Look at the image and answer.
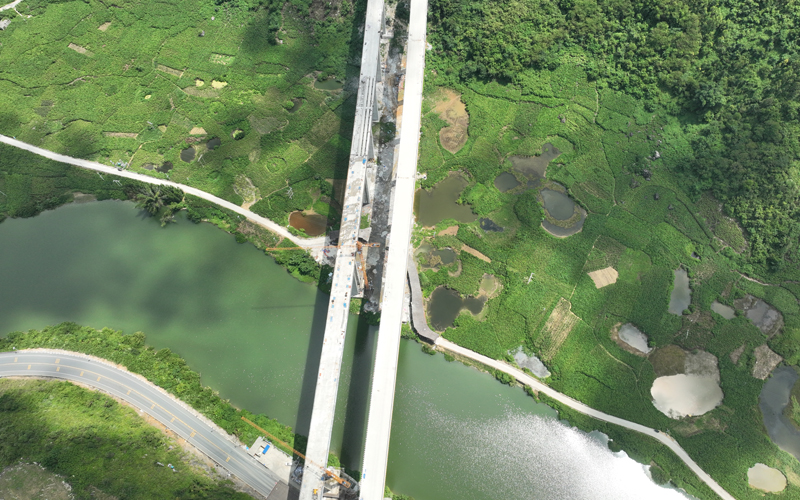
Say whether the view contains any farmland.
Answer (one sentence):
Yes, there's farmland in this view.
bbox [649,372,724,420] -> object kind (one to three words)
pond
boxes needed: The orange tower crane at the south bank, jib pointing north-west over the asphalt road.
[241,416,351,490]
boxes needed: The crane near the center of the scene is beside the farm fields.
[267,241,380,292]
